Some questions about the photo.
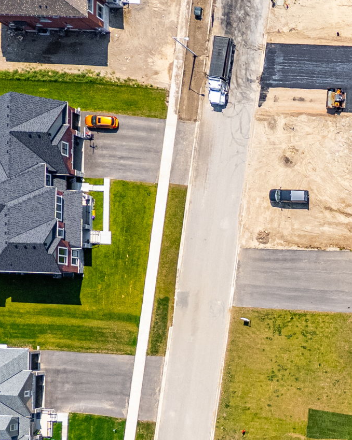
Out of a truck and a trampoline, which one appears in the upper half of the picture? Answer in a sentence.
It is a truck that can be seen in the upper half of the picture.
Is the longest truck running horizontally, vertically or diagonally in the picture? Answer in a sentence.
The longest truck is laid out vertically.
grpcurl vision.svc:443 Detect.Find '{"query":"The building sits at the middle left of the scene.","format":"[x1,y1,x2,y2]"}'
[0,90,101,277]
